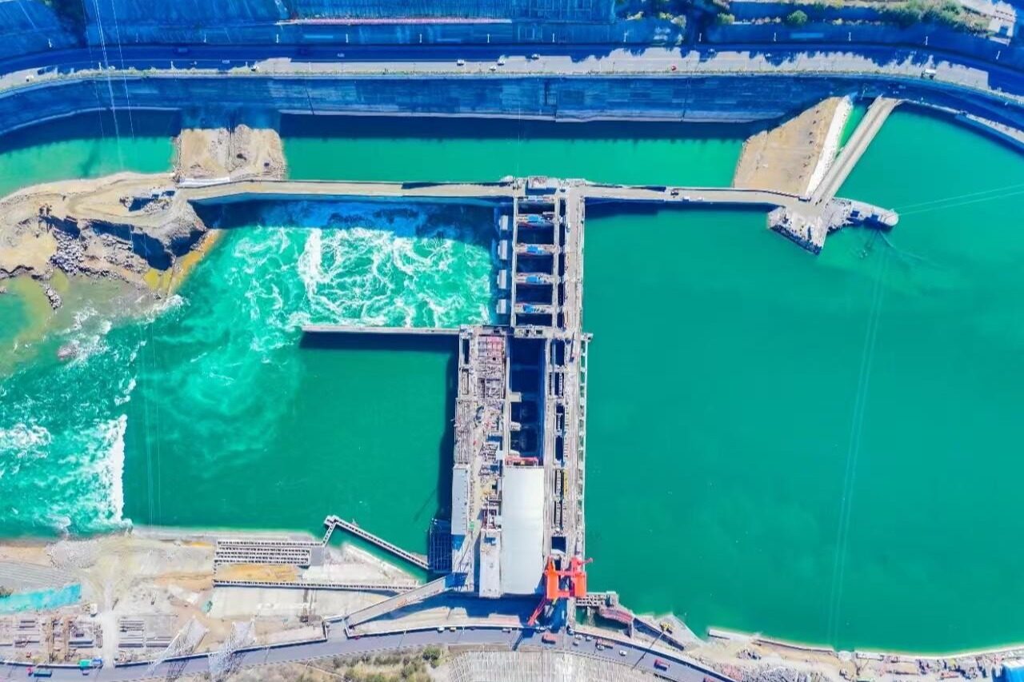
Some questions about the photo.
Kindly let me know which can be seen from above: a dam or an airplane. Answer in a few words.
dam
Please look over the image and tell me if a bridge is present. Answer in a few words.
Yes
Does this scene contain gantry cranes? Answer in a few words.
Yes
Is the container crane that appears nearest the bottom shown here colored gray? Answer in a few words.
No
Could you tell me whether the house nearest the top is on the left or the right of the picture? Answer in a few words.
right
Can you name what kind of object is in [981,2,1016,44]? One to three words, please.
house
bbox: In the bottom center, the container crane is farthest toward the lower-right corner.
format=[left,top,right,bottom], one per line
[528,551,593,625]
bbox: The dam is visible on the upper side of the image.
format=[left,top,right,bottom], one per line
[178,175,803,335]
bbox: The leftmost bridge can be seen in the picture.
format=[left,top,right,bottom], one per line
[345,573,448,628]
